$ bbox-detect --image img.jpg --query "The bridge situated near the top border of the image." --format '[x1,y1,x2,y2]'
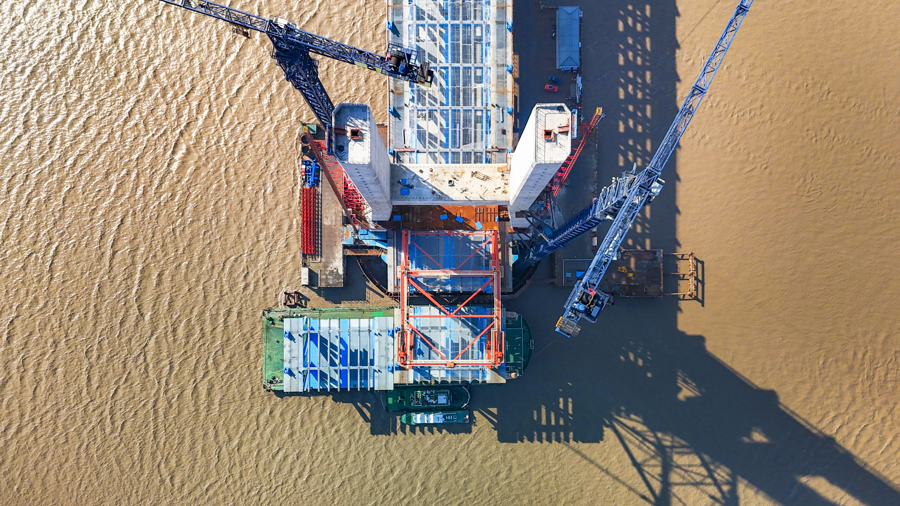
[388,0,512,165]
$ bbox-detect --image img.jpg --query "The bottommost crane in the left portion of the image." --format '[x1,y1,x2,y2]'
[304,126,367,228]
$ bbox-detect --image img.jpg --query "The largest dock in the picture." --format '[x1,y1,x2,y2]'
[618,249,662,299]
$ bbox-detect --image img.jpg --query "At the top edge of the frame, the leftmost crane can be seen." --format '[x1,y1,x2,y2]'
[142,0,438,133]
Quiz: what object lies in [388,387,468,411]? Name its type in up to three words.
boat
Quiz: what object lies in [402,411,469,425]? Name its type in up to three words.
boat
